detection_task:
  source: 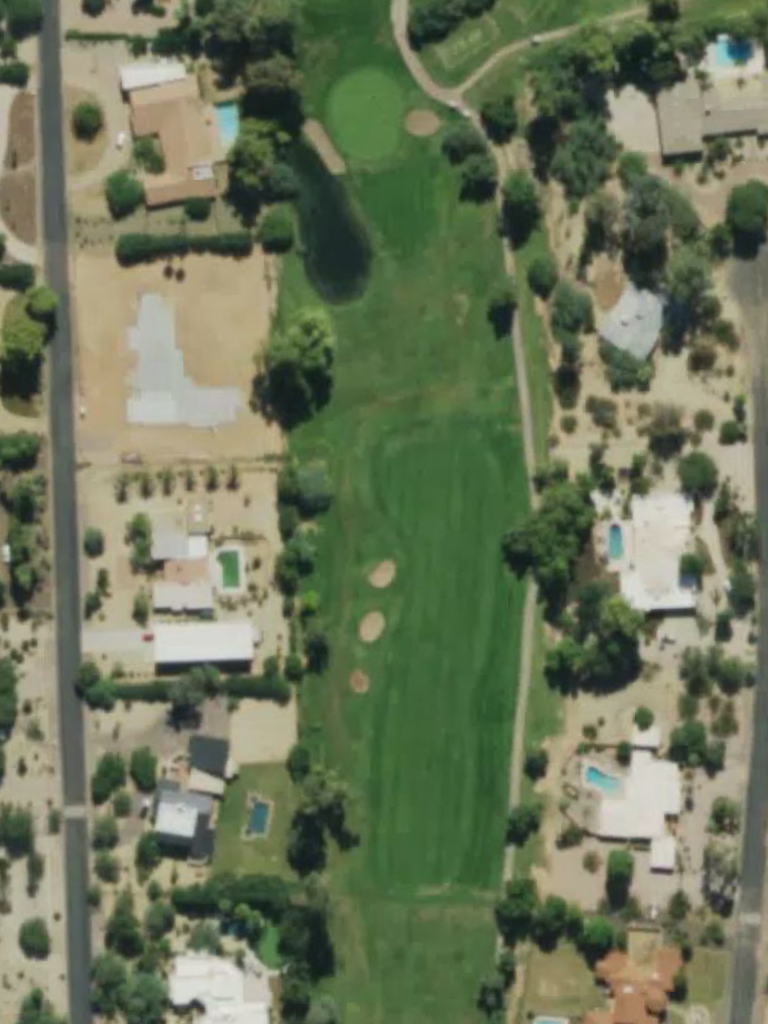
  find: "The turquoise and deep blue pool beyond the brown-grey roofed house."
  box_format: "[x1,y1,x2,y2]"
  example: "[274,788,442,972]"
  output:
[715,35,754,67]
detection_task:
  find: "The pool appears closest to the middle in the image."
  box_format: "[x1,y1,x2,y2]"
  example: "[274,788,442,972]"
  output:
[217,550,241,588]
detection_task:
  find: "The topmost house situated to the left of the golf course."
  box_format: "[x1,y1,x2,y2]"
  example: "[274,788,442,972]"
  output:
[120,62,215,206]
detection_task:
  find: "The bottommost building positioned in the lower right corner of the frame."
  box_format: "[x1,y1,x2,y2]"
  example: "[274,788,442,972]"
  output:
[587,949,683,1024]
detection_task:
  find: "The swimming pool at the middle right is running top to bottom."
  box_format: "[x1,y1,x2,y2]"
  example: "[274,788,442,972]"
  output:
[608,523,624,561]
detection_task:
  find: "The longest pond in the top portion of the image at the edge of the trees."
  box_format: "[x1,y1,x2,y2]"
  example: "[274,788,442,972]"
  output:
[296,141,372,302]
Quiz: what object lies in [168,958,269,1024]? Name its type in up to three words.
house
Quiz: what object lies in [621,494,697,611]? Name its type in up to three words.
house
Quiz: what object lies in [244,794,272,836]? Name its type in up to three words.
swimming pool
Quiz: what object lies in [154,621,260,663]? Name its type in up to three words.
building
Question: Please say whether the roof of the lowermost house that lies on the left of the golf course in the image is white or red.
white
